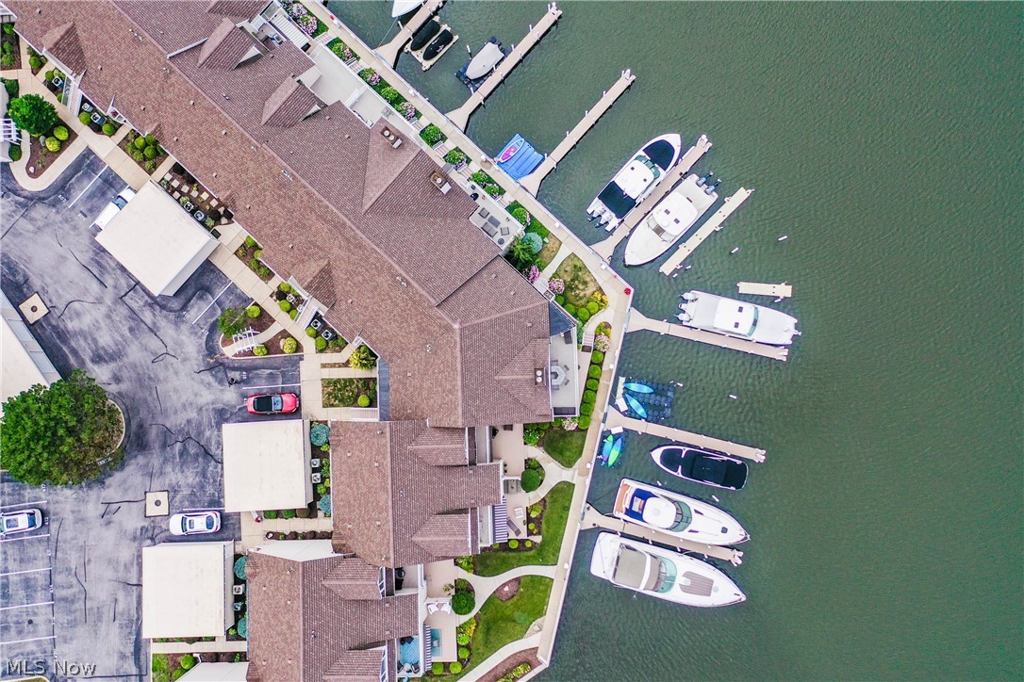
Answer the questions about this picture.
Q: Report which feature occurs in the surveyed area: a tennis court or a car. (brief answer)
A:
car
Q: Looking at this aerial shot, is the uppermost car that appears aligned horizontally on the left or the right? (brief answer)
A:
left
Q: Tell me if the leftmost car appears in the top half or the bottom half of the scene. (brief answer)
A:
bottom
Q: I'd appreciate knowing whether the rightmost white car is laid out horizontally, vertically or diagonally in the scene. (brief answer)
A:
horizontally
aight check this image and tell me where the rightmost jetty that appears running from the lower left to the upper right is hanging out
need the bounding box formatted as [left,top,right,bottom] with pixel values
[658,187,753,276]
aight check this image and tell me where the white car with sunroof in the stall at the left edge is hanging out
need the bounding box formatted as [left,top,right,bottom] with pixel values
[0,507,49,538]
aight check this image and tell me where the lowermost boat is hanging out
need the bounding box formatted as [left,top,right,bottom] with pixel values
[587,533,748,606]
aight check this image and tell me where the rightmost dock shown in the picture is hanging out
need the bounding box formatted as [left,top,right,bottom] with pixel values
[735,281,792,299]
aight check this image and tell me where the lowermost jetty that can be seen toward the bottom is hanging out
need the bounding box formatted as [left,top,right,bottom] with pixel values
[580,502,739,563]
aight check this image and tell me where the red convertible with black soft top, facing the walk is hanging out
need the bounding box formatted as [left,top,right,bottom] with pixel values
[247,391,300,417]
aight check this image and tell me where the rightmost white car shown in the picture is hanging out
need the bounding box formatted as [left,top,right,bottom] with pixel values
[170,510,223,537]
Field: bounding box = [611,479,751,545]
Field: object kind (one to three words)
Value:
boat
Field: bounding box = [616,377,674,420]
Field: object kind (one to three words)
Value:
pier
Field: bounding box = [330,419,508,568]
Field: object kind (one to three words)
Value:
house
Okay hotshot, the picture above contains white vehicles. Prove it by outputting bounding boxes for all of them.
[0,507,49,538]
[170,510,223,537]
[93,183,142,231]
